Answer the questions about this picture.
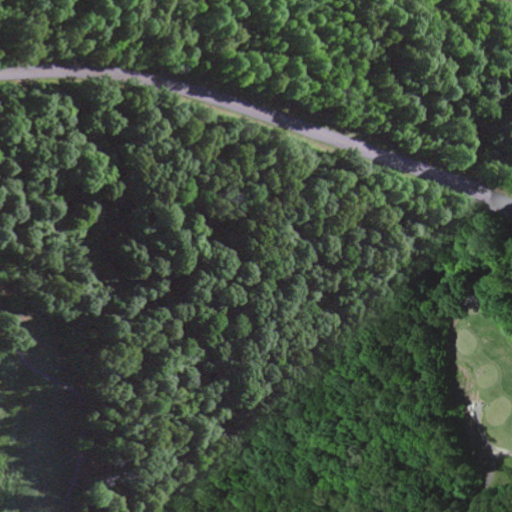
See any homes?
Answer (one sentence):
No, no home is visible in the view.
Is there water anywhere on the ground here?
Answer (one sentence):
No, the picture contains no water.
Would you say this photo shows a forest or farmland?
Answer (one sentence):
This image shows a forest.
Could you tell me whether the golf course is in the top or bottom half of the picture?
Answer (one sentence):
Seen from above, the golf course lies in the bottom half of the view.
